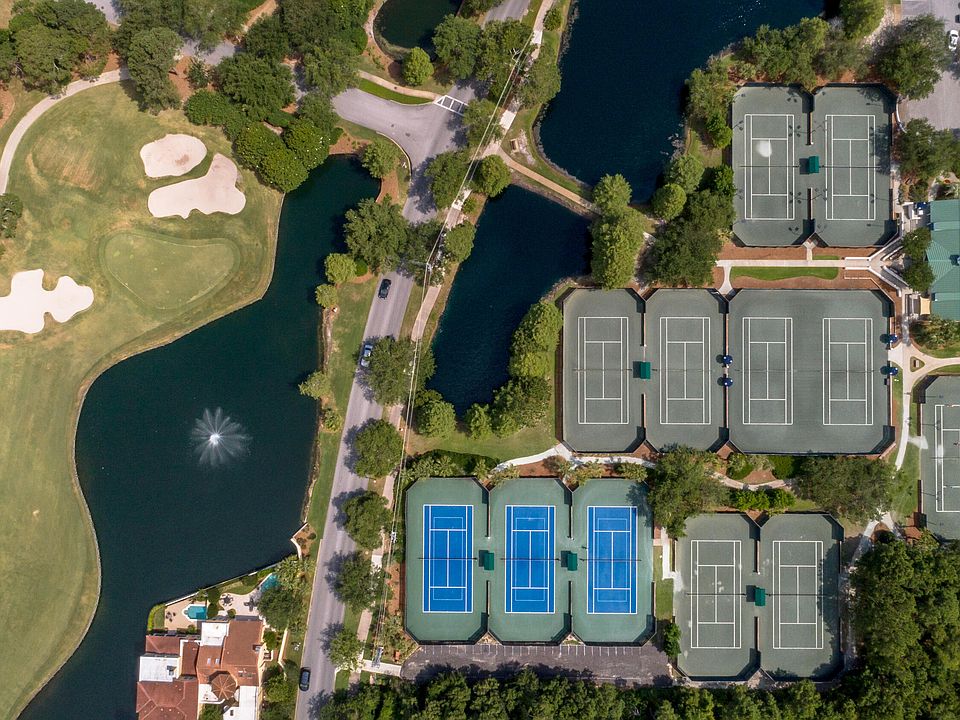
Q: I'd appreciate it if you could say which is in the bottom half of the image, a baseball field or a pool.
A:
pool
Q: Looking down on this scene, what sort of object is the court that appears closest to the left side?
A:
tennis court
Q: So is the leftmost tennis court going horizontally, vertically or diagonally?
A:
vertically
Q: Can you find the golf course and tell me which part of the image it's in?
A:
left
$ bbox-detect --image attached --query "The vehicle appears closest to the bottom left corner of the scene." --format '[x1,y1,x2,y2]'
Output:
[298,667,310,690]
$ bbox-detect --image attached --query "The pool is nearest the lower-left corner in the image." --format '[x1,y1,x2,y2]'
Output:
[181,603,208,622]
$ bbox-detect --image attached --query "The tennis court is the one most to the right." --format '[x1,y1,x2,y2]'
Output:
[922,378,960,540]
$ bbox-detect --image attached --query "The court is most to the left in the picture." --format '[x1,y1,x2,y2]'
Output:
[406,481,489,643]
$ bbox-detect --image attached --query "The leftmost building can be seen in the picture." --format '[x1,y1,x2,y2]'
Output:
[135,629,206,720]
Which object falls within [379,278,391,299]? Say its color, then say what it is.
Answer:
black vehicle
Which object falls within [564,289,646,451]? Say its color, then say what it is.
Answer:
gray tennis court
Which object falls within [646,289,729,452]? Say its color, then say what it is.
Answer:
gray tennis court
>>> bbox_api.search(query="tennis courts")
[922,378,960,540]
[729,290,808,453]
[646,289,729,452]
[573,482,653,644]
[761,517,841,680]
[807,291,892,454]
[813,87,892,244]
[489,482,573,643]
[564,289,646,451]
[677,517,761,681]
[738,86,813,243]
[406,481,489,643]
